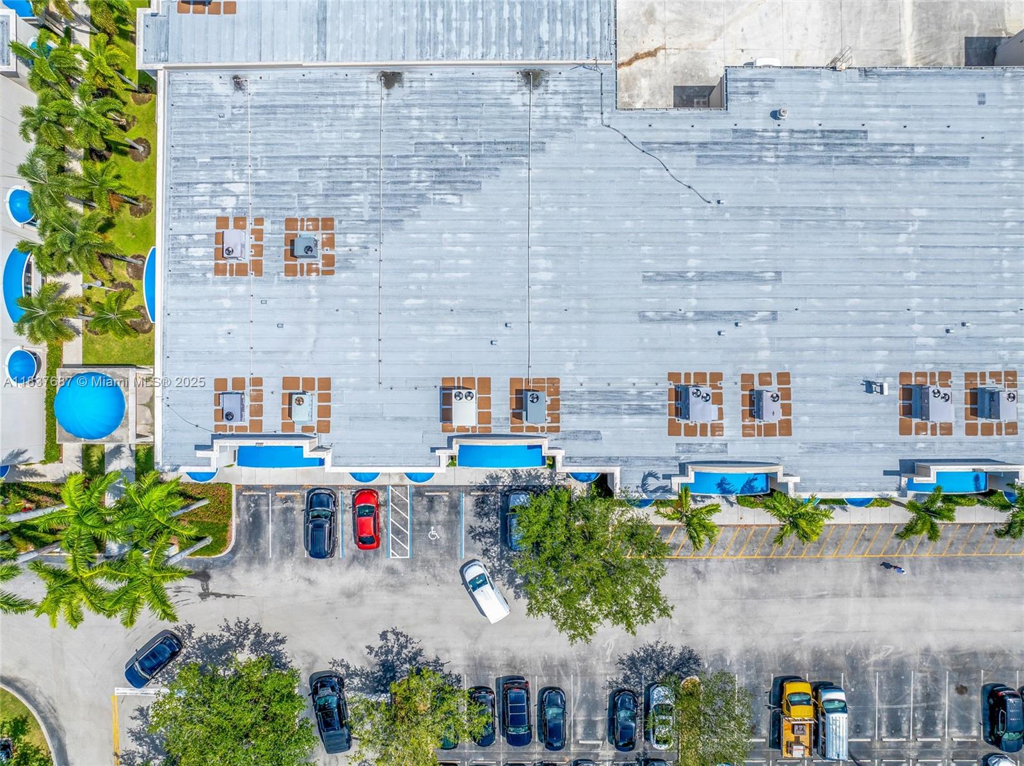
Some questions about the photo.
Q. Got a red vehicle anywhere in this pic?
Yes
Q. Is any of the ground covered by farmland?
No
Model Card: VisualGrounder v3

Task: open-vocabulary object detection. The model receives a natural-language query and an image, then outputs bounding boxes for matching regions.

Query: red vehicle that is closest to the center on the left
[350,489,381,550]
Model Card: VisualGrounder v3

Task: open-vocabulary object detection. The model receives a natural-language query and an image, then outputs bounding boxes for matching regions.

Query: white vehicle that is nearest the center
[463,558,509,627]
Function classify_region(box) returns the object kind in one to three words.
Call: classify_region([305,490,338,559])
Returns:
car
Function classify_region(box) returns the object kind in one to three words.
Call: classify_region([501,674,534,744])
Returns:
car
